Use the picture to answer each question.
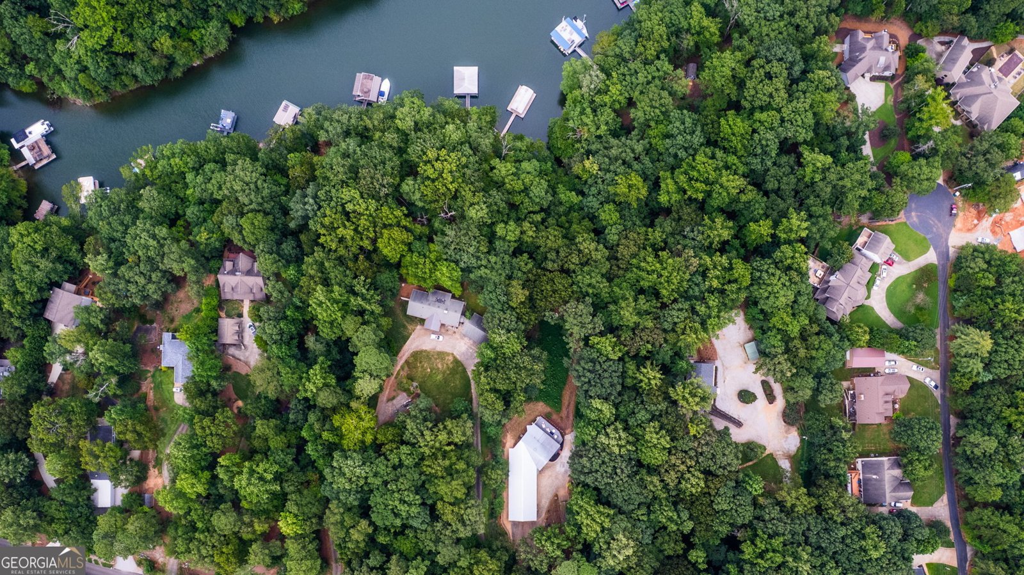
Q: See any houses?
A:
Yes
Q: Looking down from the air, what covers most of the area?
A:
trees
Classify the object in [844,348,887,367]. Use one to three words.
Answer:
shed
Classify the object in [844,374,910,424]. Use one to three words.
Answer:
house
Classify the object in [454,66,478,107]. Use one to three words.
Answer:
pier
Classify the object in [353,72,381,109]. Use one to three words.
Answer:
pier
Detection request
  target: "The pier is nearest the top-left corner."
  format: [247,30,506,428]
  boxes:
[12,134,56,171]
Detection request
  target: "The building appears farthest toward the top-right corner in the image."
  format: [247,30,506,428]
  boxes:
[935,35,1021,130]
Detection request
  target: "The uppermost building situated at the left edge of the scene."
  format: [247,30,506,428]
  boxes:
[44,275,95,326]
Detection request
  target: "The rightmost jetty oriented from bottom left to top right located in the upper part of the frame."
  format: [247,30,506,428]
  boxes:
[499,85,536,138]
